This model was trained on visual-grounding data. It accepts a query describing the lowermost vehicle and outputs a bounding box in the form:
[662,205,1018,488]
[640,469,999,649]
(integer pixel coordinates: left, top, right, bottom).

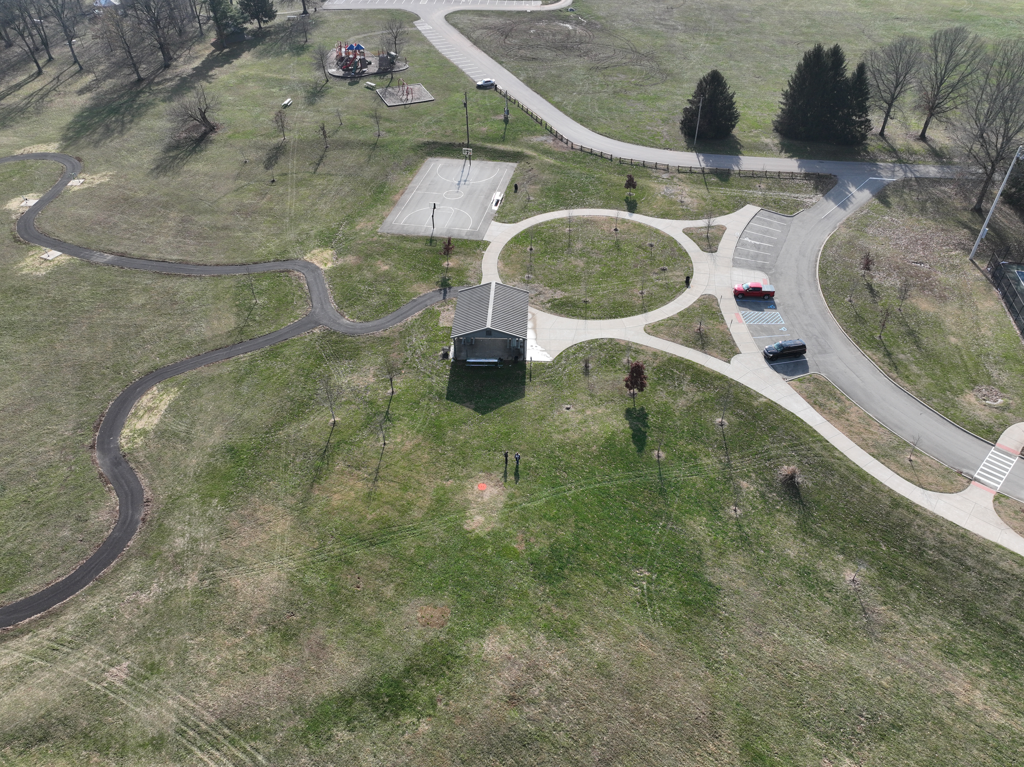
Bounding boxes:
[761,338,808,361]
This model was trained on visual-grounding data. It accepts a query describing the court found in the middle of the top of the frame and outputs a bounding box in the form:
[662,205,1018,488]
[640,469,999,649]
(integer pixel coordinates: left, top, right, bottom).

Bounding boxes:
[378,158,517,240]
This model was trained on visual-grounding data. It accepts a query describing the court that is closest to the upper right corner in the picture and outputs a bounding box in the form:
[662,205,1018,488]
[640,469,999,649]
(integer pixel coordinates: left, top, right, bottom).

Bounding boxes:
[988,263,1024,338]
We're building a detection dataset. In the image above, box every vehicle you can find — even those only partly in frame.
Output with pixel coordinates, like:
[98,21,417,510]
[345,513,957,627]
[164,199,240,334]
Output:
[761,338,808,361]
[732,282,775,299]
[476,78,497,87]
